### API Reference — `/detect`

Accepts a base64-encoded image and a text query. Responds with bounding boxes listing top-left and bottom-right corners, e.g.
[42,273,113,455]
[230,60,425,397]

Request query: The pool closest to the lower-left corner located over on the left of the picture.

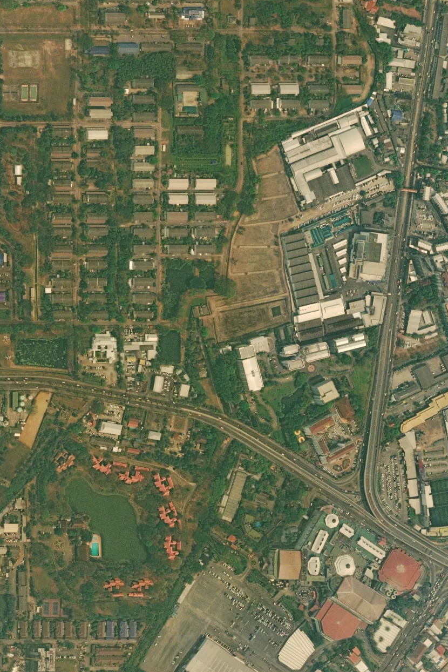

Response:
[90,532,104,560]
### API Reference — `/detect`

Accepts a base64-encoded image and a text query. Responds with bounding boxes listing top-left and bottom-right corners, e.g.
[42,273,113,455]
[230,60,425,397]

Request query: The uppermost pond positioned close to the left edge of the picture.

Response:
[15,338,73,369]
